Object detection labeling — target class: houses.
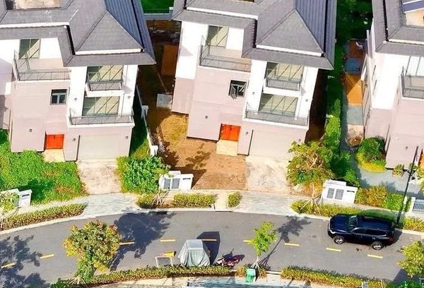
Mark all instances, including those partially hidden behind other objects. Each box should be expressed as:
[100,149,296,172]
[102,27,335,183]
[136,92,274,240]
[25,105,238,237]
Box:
[360,0,424,169]
[0,0,157,163]
[172,0,338,159]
